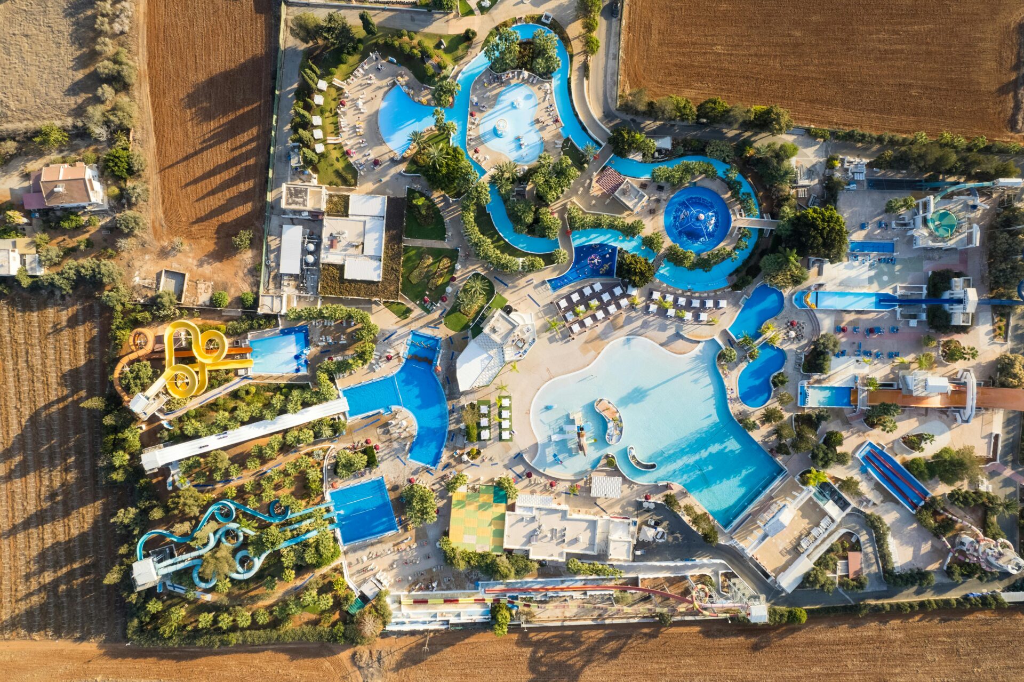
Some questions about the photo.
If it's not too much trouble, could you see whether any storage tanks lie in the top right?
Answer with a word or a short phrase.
No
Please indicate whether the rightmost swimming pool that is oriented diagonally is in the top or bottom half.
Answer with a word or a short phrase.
bottom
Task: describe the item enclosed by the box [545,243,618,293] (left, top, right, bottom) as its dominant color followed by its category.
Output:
blue swimming pool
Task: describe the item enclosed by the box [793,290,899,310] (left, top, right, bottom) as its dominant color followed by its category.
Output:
blue swimming pool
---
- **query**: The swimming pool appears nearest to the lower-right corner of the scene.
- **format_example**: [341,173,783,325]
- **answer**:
[858,441,932,512]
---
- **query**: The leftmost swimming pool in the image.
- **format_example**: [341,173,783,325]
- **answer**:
[250,326,309,375]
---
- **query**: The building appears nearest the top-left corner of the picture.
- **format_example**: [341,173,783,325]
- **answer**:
[18,162,110,210]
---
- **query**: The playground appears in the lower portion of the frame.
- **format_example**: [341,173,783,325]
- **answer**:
[552,412,594,457]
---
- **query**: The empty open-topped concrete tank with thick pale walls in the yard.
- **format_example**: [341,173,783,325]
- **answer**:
[159,269,192,303]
